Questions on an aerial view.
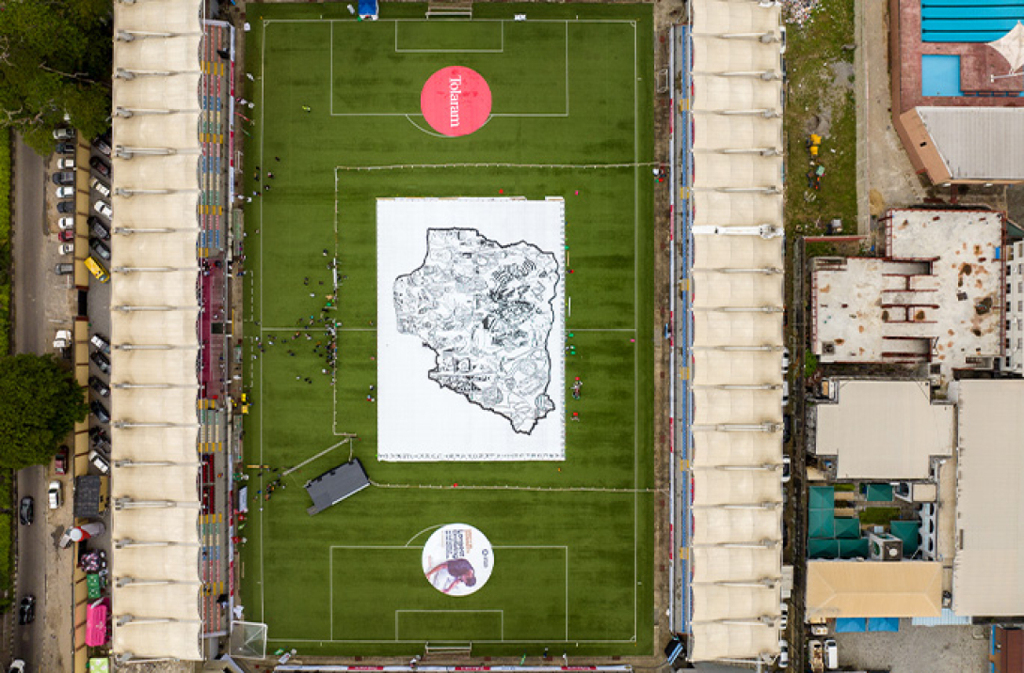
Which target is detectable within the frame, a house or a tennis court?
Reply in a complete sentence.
There is a house in the scene.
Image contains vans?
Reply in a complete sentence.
Yes, a van is visible in the scene.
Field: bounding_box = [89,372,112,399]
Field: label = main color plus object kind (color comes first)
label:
black car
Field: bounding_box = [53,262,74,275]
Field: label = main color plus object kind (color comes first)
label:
gray vehicle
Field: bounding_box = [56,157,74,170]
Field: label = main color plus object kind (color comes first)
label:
white vehicle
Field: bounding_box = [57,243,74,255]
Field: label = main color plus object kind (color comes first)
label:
white vehicle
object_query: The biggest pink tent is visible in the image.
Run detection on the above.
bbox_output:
[86,599,112,646]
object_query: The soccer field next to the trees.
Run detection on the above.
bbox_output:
[244,2,653,657]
